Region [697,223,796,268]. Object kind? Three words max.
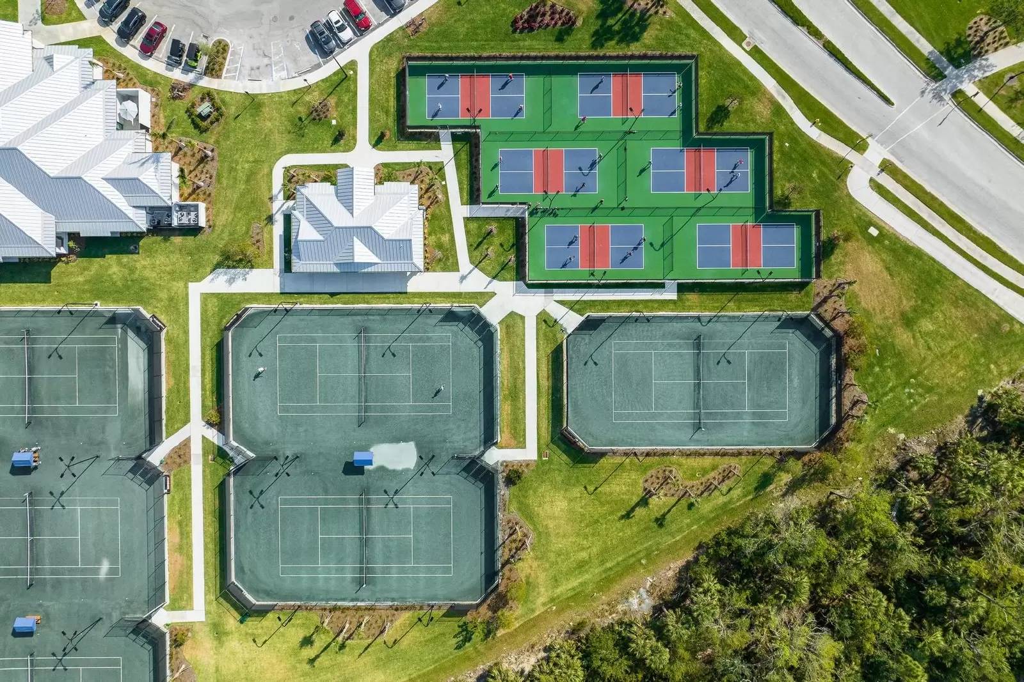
sports court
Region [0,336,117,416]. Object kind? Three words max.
tennis court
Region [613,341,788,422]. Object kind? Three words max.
tennis court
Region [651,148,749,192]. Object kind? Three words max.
sports court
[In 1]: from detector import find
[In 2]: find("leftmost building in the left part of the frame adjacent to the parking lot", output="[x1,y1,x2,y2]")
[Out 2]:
[0,19,205,257]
